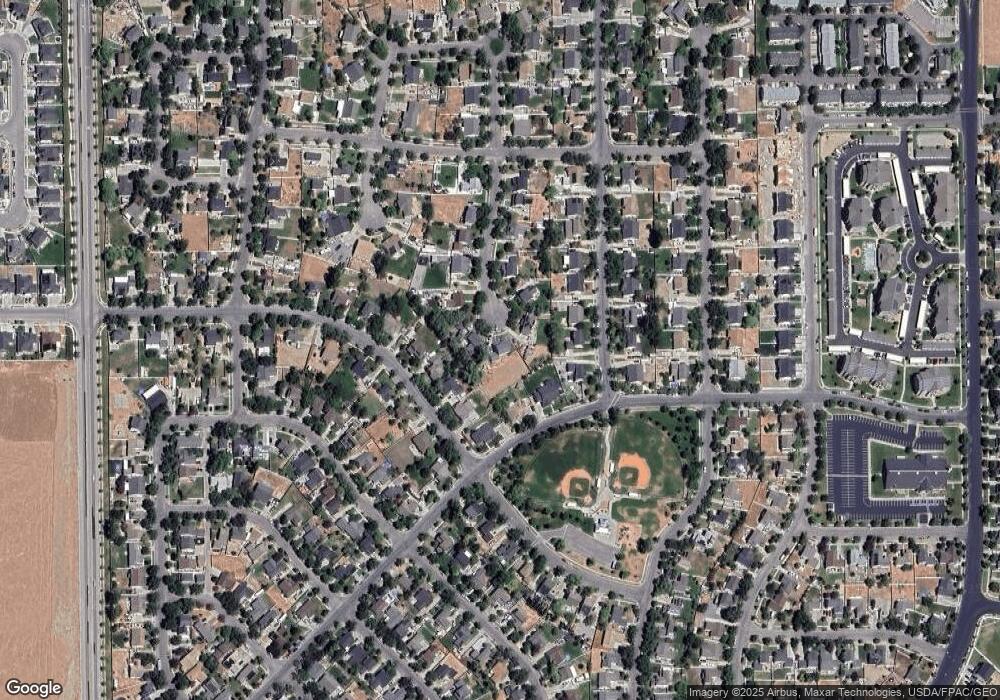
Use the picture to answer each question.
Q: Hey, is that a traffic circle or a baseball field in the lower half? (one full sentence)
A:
The one visible in the lower half is a baseball field.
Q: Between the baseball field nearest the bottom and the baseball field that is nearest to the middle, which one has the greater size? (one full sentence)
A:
The baseball field that is nearest to the middle is larger than the baseball field nearest the bottom.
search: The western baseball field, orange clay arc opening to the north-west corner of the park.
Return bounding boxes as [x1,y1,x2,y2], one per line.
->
[534,432,598,504]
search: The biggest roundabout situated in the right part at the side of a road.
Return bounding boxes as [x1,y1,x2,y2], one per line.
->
[908,243,938,274]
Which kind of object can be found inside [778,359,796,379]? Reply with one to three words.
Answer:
house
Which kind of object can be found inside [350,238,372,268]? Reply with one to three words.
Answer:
house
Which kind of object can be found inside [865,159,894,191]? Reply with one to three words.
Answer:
building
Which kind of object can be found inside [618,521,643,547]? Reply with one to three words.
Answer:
playground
